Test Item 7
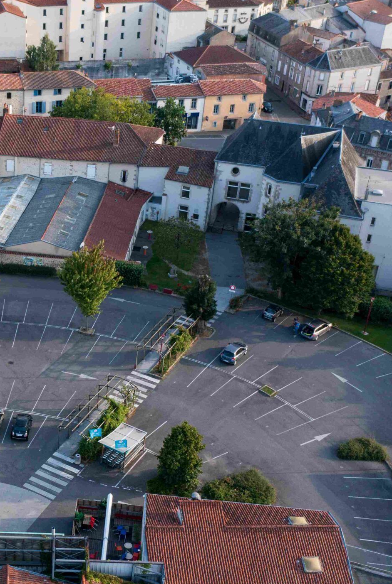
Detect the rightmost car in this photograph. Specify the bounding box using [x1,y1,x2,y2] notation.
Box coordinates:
[302,319,338,342]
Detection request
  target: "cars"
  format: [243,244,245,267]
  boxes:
[261,302,289,322]
[12,409,36,437]
[0,405,6,434]
[262,99,272,110]
[302,319,338,342]
[223,339,250,363]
